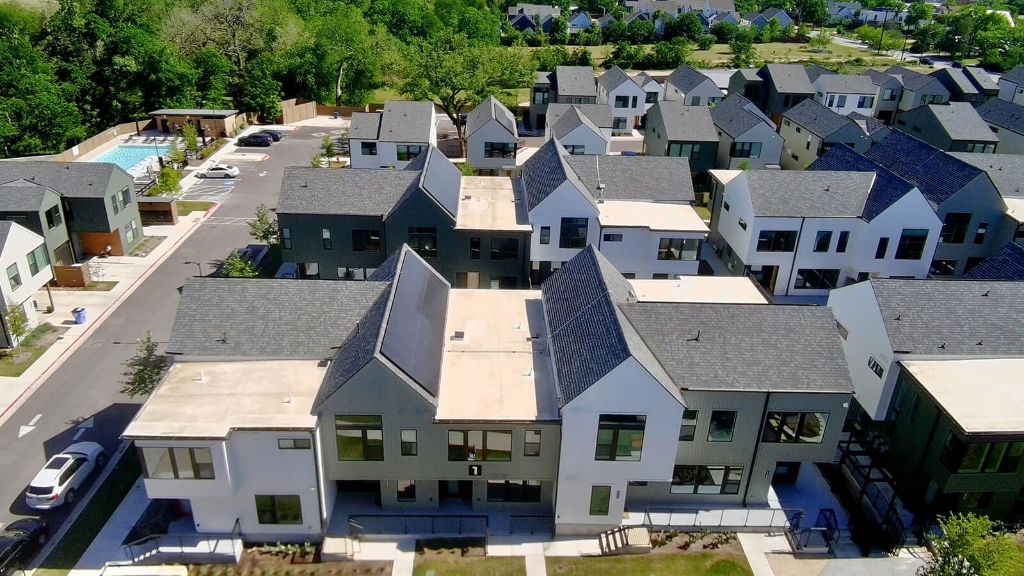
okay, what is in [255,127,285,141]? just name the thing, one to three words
car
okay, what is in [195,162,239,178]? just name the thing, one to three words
car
